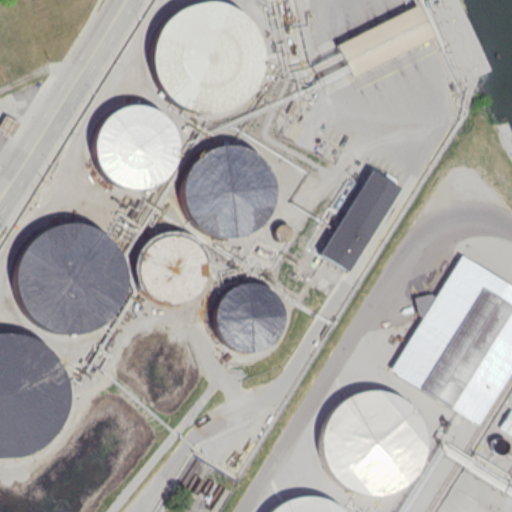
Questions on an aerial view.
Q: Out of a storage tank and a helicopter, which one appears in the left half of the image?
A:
storage tank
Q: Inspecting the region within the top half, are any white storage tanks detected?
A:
Yes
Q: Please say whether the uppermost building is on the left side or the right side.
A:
right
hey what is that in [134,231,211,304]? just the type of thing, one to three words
storage tank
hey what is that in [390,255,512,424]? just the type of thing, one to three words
warehouse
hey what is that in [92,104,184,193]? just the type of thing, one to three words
storage tank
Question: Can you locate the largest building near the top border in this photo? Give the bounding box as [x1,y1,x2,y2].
[336,6,435,78]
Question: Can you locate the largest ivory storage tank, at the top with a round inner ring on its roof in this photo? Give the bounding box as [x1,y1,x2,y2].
[150,0,270,117]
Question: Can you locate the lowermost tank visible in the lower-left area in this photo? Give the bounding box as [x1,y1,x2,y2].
[0,332,72,460]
